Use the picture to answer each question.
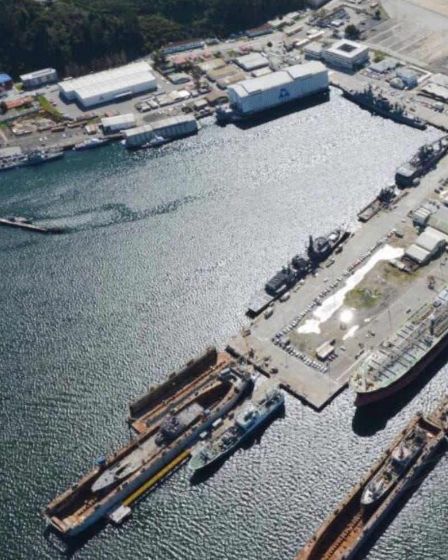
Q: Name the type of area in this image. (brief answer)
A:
port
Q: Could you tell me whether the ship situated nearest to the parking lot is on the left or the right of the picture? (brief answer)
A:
right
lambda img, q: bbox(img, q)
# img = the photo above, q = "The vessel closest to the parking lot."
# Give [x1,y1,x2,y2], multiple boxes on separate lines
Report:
[344,86,429,134]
